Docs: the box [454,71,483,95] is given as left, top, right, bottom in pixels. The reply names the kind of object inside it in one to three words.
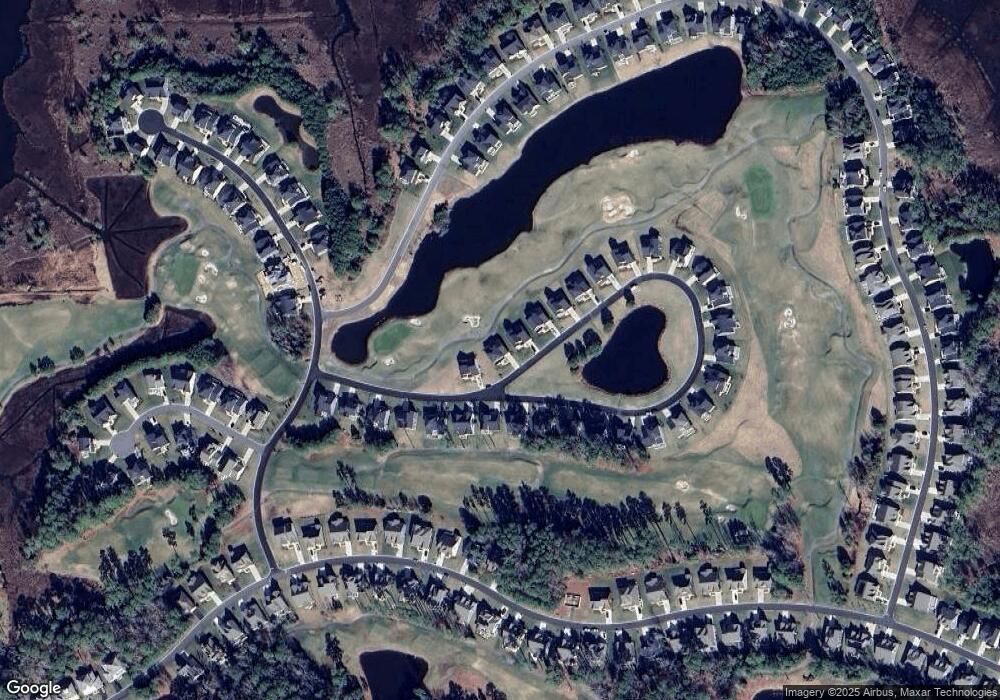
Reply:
house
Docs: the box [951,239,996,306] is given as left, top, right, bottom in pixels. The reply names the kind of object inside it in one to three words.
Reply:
pond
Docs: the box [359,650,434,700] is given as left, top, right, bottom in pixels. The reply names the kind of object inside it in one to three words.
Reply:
pond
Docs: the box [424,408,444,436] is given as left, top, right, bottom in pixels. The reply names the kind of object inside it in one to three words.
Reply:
house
